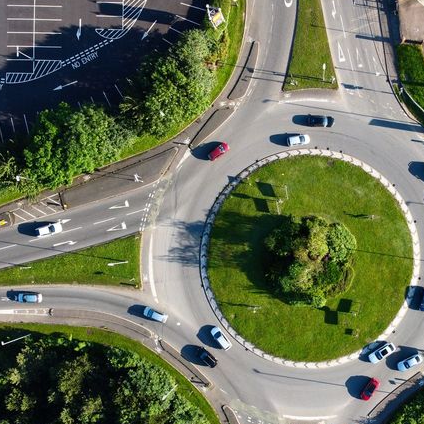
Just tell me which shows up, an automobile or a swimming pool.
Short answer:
automobile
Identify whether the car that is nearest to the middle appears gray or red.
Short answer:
red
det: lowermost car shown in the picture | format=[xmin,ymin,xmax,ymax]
[360,377,380,401]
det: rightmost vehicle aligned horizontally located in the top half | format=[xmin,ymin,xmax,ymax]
[307,113,334,127]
